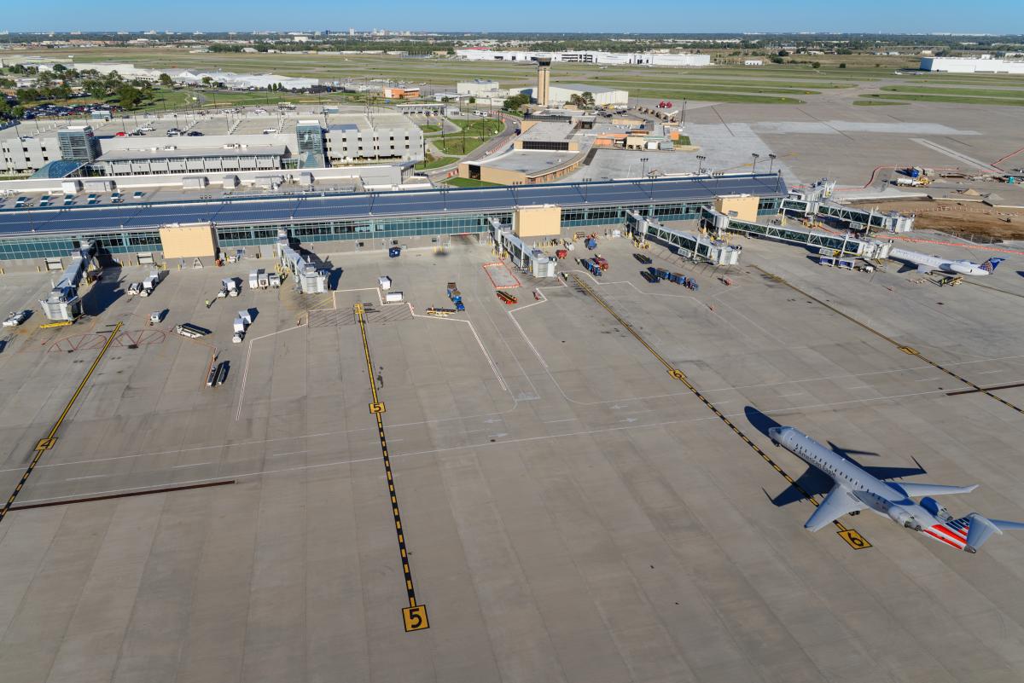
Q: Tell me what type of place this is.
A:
airport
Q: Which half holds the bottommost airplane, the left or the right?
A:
right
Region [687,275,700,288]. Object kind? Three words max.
vehicle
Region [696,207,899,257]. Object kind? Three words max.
jet bridge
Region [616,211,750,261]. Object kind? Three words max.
jet bridge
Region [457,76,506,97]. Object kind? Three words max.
building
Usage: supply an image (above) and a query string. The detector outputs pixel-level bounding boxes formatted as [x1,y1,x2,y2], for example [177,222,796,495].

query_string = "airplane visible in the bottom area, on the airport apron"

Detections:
[770,426,1024,560]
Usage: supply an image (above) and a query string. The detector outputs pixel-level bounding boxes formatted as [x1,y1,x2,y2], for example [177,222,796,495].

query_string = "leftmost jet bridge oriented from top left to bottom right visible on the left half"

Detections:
[273,229,322,290]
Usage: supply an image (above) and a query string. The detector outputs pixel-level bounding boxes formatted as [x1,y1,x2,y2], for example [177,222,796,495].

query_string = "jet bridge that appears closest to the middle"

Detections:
[480,218,568,274]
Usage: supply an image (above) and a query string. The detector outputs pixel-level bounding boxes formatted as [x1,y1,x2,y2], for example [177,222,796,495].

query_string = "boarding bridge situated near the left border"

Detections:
[34,239,116,319]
